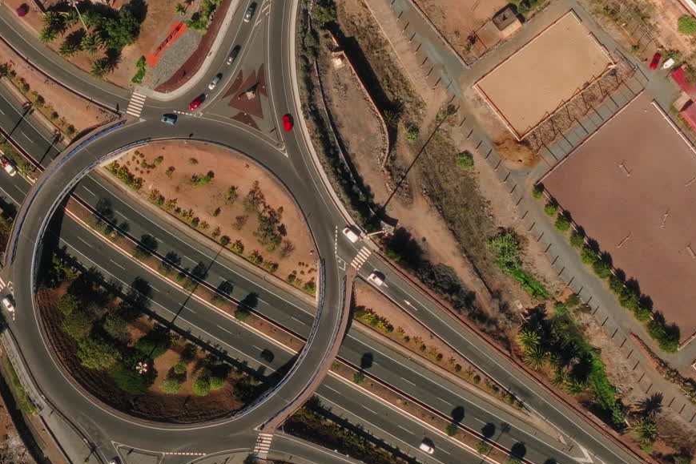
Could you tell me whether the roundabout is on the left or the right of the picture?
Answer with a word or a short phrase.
left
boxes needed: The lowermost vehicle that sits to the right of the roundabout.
[420,441,436,455]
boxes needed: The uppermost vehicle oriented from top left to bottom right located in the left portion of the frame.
[0,155,17,176]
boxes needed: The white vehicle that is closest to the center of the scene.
[343,226,362,245]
